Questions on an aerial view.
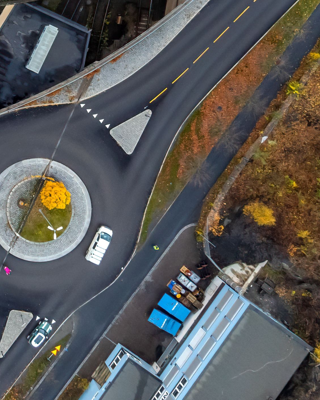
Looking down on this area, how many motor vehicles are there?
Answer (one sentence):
In total, 2 motor vehicles can be seen.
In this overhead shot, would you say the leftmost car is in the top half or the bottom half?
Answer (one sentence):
You can find the leftmost car in the bottom half.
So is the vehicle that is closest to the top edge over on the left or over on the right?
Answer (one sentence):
The vehicle that is closest to the top edge sits on the left side.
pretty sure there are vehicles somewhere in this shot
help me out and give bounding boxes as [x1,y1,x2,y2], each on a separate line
[30,321,53,350]
[87,226,114,266]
